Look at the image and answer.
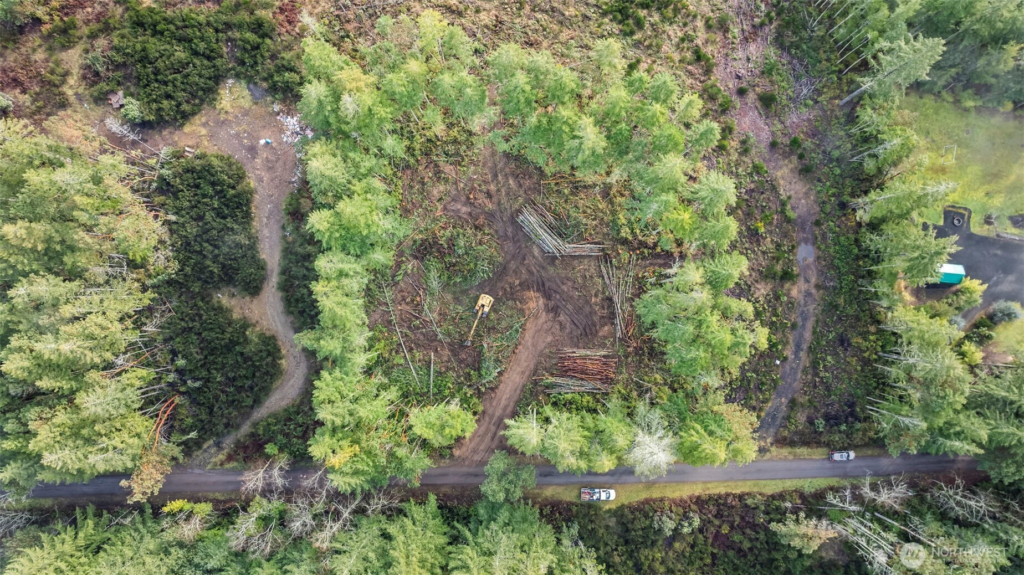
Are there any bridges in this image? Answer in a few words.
No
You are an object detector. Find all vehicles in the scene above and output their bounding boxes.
[581,490,617,504]
[831,451,857,463]
[467,291,495,343]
